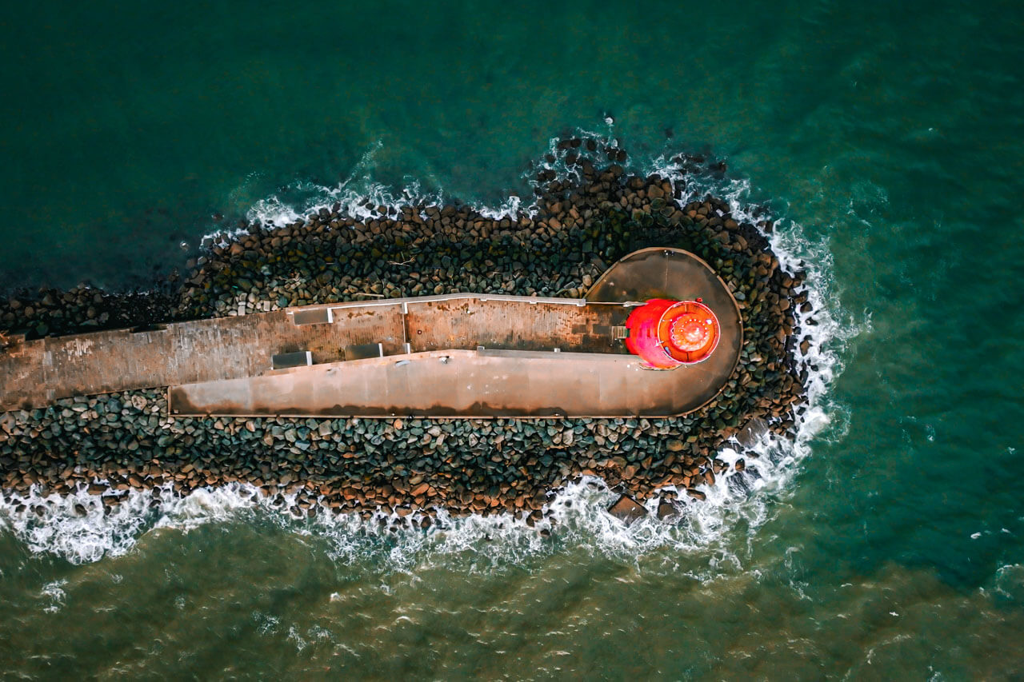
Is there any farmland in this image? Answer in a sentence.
No, the picture contains no farmland.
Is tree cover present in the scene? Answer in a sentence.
No, tree cover can't be seen anywhere here.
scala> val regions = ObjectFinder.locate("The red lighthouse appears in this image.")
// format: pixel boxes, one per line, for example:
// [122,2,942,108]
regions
[623,297,721,370]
